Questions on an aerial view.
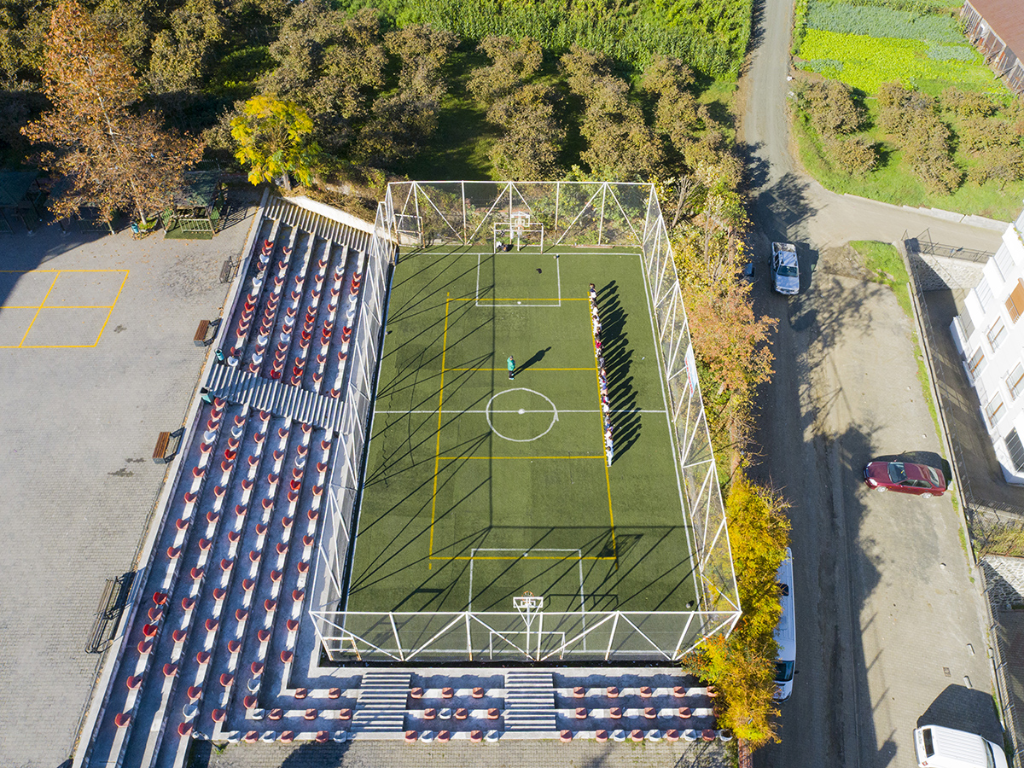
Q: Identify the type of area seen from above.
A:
sports ground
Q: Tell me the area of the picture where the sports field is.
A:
center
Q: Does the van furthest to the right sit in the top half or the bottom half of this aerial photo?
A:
bottom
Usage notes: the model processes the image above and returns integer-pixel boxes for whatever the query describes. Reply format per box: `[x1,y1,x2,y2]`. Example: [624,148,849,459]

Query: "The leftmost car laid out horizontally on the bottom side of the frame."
[865,466,952,504]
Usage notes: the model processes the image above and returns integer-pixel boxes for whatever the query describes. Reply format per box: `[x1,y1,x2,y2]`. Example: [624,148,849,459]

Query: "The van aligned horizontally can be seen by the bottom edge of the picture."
[911,722,1016,768]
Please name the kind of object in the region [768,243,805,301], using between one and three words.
truck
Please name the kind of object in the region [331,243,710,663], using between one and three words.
sports field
